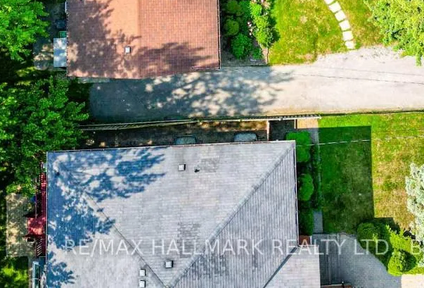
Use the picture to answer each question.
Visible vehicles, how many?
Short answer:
zero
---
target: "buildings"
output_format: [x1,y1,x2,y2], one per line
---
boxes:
[65,0,222,77]
[45,131,322,288]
